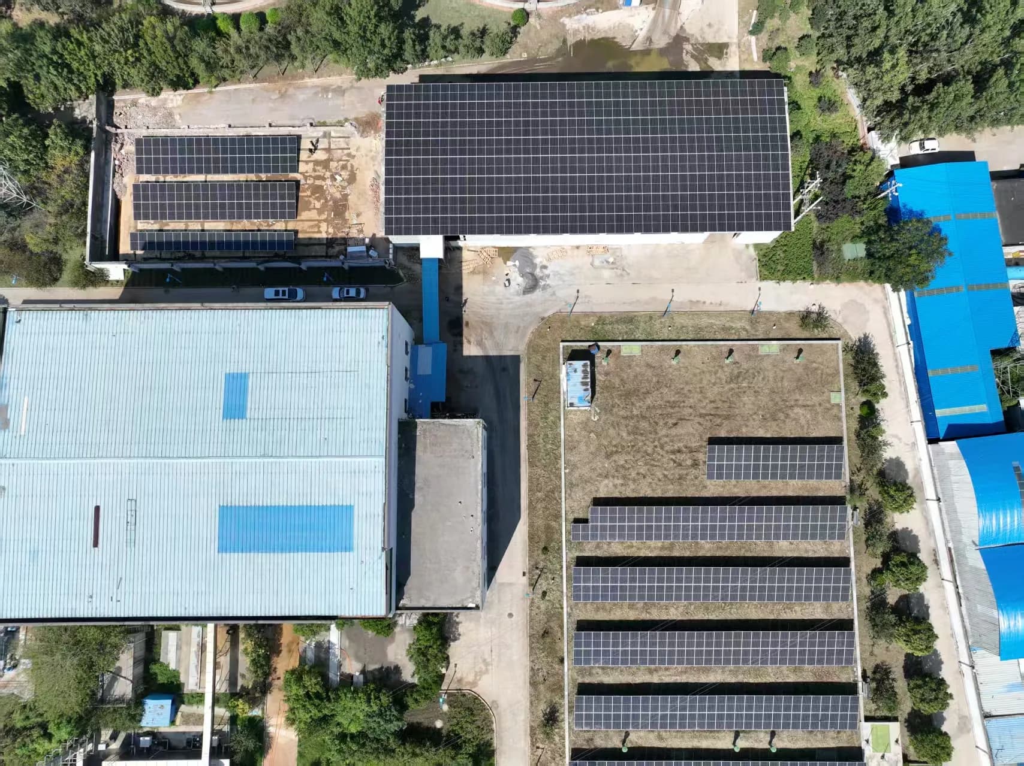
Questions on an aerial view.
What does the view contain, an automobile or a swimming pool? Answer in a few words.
automobile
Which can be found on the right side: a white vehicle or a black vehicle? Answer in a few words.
white vehicle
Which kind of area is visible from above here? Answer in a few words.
industrial area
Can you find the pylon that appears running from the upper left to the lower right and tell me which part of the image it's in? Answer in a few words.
top left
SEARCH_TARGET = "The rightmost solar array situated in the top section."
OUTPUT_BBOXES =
[384,79,791,235]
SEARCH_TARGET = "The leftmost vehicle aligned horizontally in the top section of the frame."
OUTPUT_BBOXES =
[263,285,304,301]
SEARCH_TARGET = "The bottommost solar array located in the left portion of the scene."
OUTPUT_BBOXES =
[130,232,294,251]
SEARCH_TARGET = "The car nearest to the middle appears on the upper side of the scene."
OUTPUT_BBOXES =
[331,285,365,301]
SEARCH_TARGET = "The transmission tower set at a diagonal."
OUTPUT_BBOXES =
[0,177,26,201]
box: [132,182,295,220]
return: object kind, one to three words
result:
solar array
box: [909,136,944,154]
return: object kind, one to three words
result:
car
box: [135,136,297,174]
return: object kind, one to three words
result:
solar array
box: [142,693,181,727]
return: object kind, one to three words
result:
shed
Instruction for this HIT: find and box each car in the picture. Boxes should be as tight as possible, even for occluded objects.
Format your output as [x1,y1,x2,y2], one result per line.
[909,136,944,154]
[263,285,304,301]
[331,285,365,301]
